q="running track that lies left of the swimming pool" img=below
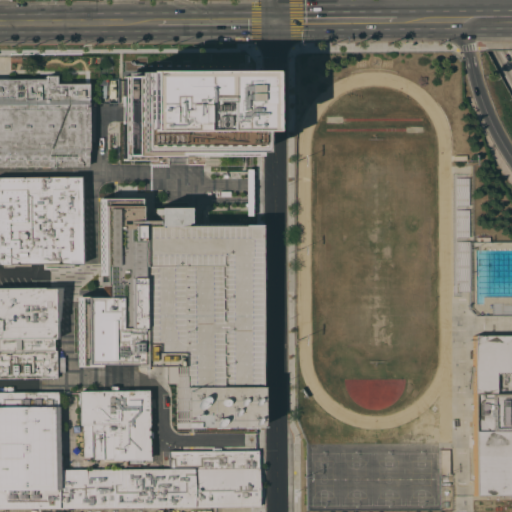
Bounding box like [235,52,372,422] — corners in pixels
[298,72,453,428]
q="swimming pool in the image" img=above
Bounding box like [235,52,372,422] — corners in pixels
[476,250,512,304]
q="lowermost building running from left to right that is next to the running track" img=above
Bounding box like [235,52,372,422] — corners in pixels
[60,451,261,510]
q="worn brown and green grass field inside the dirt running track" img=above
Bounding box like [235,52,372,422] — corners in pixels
[312,86,438,414]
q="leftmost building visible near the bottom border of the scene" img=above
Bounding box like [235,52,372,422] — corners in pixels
[0,392,62,510]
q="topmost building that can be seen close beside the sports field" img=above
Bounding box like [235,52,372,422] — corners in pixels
[125,70,285,158]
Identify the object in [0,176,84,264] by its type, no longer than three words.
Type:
building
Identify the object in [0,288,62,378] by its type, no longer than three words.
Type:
building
